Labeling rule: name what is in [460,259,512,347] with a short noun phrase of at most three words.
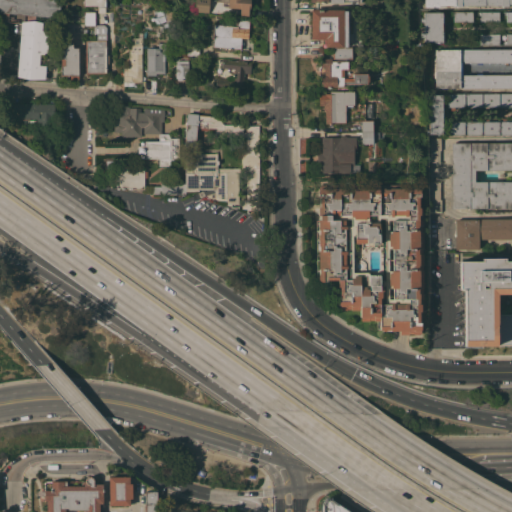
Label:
building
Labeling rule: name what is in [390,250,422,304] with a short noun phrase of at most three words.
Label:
house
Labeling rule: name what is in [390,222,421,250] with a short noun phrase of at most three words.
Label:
house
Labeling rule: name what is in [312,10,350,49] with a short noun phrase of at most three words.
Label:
building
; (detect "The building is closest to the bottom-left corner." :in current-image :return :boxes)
[46,476,105,512]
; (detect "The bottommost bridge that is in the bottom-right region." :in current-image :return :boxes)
[232,404,512,512]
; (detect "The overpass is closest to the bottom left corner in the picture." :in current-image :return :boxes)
[24,342,114,442]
